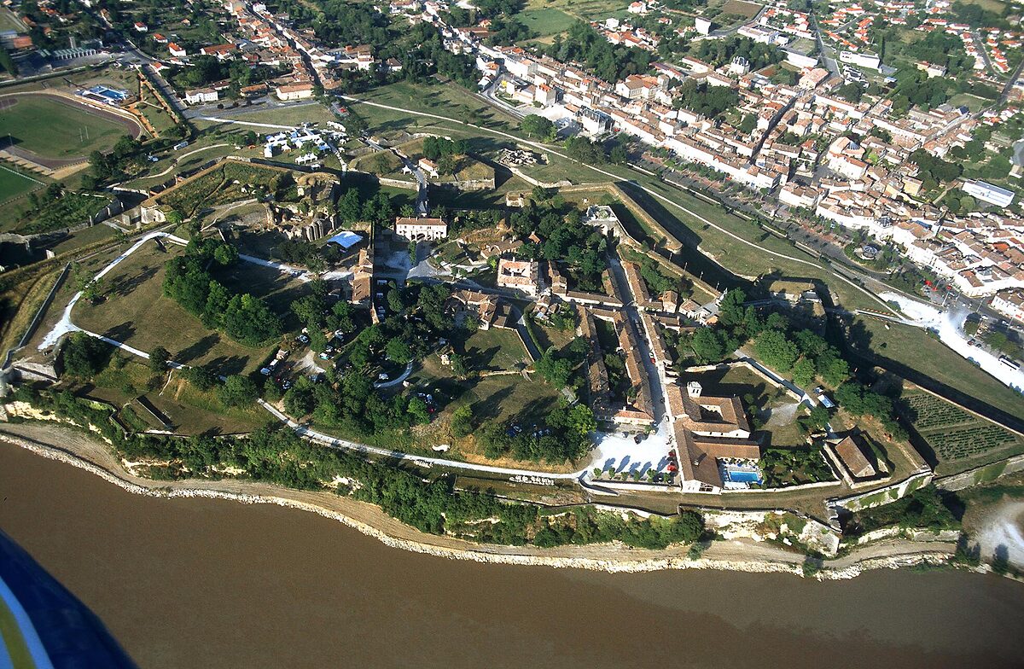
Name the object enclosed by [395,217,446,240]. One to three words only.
building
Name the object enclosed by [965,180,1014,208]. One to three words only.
building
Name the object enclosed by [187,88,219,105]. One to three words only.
house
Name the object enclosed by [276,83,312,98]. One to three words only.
house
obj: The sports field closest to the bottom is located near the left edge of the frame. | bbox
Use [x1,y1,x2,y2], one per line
[0,165,44,205]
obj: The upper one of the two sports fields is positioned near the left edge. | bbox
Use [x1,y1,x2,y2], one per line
[0,98,128,157]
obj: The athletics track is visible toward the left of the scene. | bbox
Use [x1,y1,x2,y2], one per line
[0,92,139,168]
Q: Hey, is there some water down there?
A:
Yes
